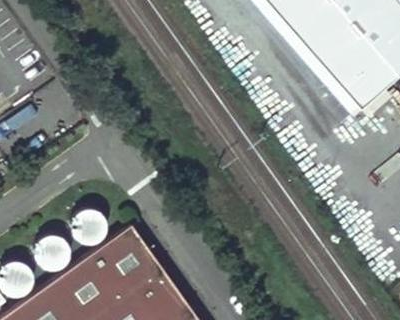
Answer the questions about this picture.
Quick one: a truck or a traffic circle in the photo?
truck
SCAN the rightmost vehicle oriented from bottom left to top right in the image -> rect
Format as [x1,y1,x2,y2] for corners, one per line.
[367,154,400,188]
